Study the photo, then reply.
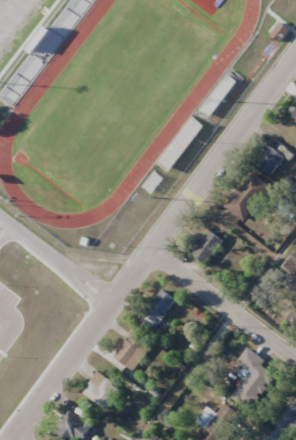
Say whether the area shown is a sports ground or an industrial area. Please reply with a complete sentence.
The picture captures a sports ground.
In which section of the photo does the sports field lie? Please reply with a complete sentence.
The sports field appears toward the top of the photo.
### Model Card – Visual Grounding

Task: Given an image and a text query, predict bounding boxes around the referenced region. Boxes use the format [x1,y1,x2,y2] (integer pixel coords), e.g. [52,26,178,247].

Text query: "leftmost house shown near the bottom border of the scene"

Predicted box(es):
[56,410,90,439]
